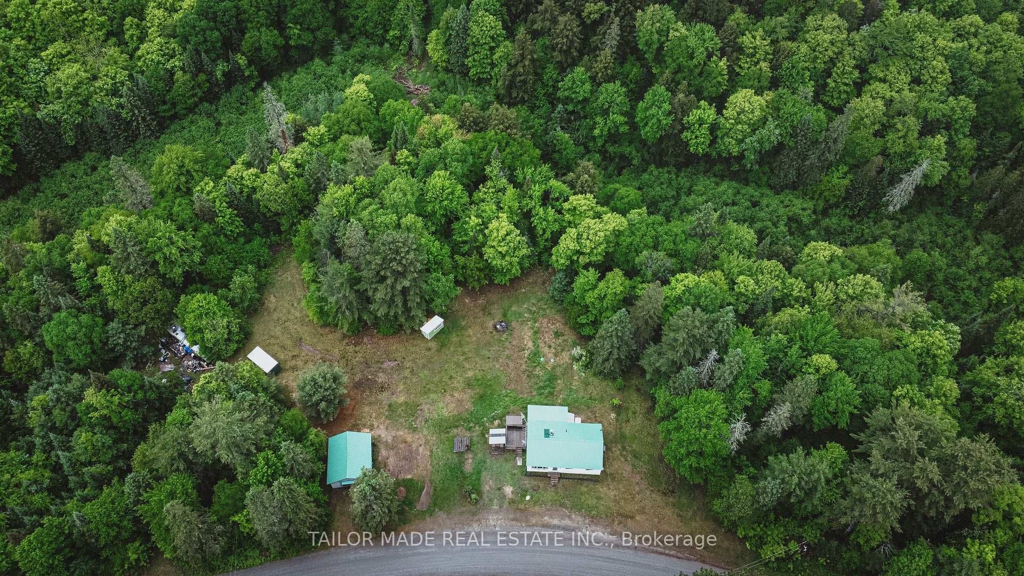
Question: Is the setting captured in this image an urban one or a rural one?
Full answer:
The land in this view is best described as rural.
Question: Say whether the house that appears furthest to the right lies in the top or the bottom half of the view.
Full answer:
The house that appears furthest to the right is in the bottom half of the image.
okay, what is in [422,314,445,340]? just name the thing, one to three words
building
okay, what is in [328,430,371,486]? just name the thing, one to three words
building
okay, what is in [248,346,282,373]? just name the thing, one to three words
shed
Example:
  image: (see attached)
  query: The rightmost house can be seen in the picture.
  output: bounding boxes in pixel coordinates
[527,405,605,489]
